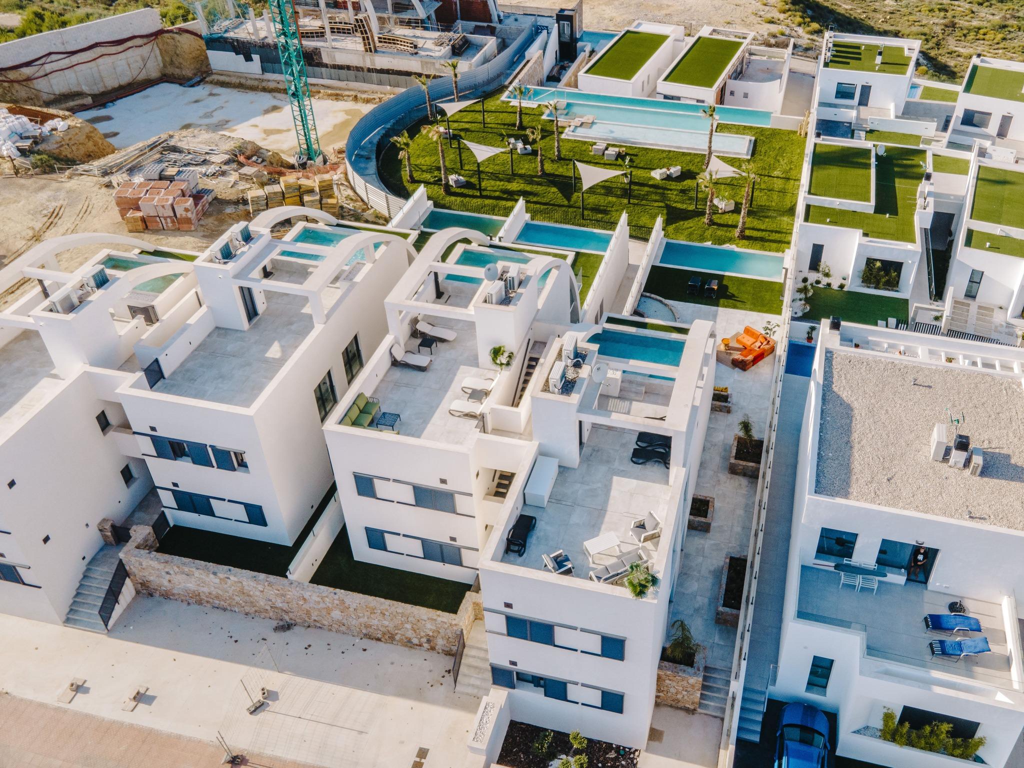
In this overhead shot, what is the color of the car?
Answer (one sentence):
From above, the car appears blue.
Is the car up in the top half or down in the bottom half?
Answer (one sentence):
The car sits in the bottom half of the picture.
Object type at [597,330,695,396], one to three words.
swimming pool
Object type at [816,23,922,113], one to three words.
house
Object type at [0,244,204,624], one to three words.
house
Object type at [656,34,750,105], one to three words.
building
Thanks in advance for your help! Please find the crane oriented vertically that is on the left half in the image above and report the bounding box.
[265,0,325,157]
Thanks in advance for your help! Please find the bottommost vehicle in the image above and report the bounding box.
[773,710,837,768]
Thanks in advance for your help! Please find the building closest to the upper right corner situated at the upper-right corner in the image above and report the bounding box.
[951,49,1024,147]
